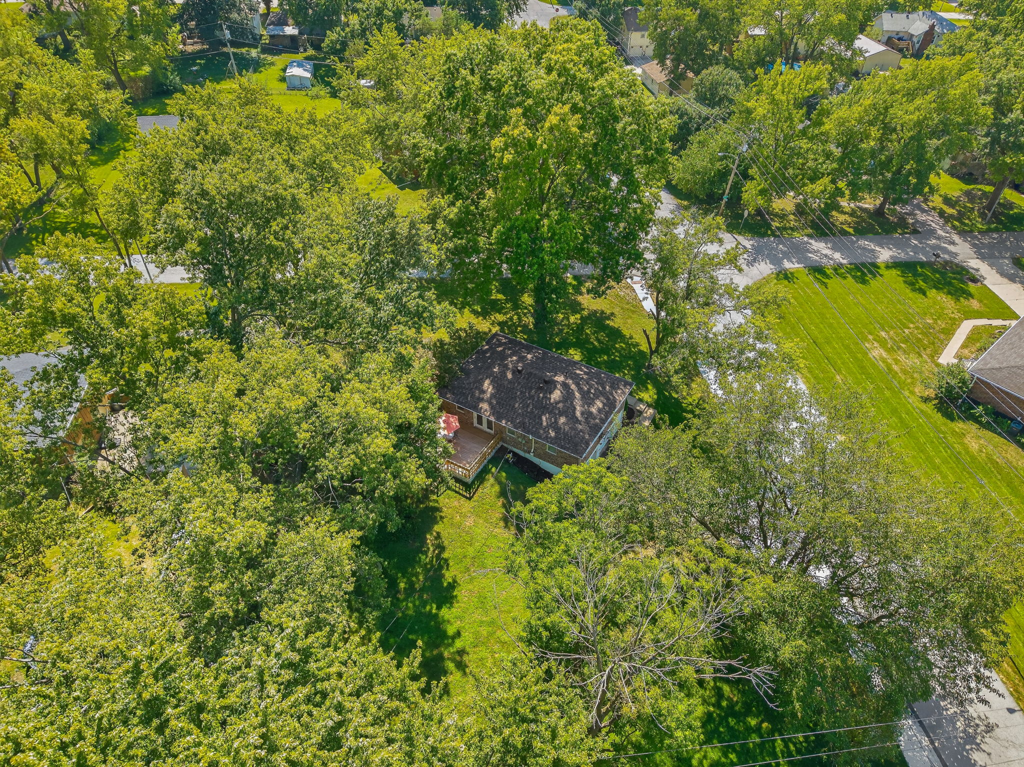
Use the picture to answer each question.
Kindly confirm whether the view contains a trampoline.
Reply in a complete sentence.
No, there is no trampoline in the image.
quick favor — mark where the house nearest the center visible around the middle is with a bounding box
[441,331,633,479]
